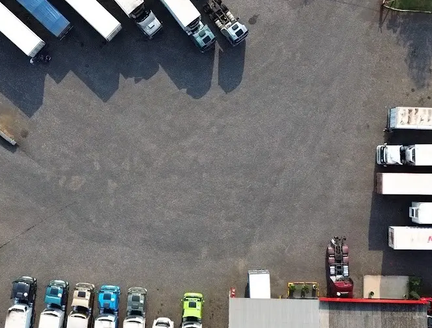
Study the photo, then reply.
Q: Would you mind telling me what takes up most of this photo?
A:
paved ground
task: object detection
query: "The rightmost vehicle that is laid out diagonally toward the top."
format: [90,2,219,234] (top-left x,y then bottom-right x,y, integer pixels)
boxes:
[204,0,250,48]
